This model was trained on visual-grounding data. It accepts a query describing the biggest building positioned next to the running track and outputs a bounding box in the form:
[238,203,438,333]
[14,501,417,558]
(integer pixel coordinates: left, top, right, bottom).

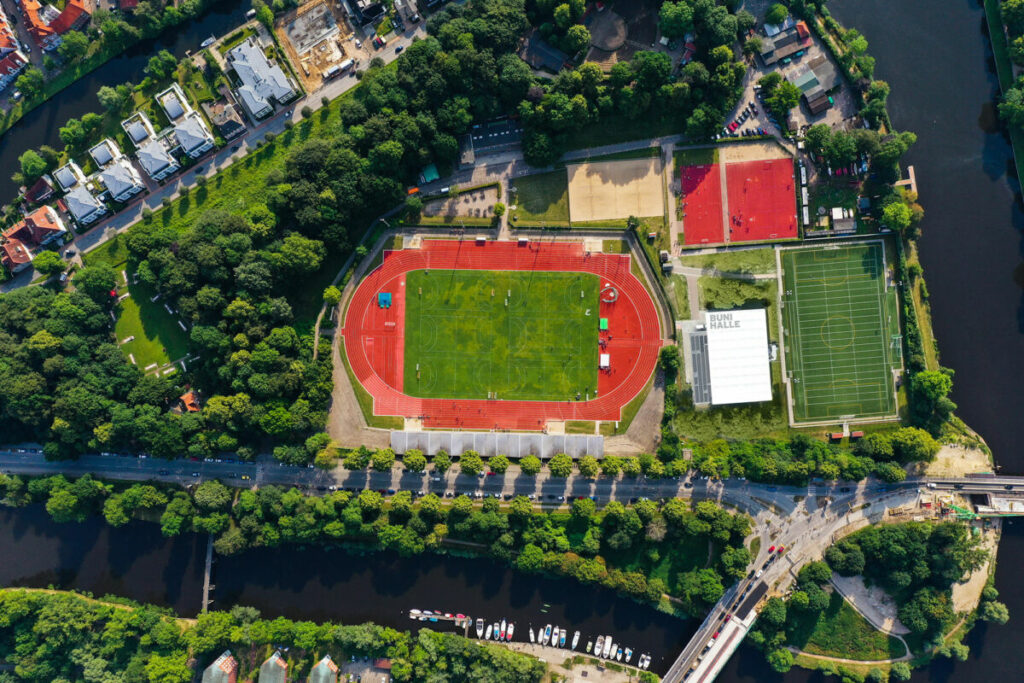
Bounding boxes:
[703,309,772,404]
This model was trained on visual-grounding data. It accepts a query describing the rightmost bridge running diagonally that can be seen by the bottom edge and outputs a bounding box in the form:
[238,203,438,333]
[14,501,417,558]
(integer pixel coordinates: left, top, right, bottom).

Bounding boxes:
[662,557,768,683]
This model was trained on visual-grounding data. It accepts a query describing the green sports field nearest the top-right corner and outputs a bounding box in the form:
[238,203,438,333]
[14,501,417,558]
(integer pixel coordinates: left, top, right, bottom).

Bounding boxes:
[776,239,901,427]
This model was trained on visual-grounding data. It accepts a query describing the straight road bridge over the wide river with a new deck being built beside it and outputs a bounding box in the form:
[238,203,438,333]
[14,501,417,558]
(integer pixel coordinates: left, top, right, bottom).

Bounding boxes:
[926,478,1024,523]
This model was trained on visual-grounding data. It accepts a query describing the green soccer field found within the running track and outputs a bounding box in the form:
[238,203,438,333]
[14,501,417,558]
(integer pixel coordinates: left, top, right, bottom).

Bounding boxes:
[404,269,601,400]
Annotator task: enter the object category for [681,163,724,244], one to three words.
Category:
sports court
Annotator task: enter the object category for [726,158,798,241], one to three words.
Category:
sports court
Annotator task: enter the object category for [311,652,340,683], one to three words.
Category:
barn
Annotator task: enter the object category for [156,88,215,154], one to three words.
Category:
house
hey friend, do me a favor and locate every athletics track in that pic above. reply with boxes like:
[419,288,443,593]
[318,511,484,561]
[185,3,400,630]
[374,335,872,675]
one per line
[339,235,664,434]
